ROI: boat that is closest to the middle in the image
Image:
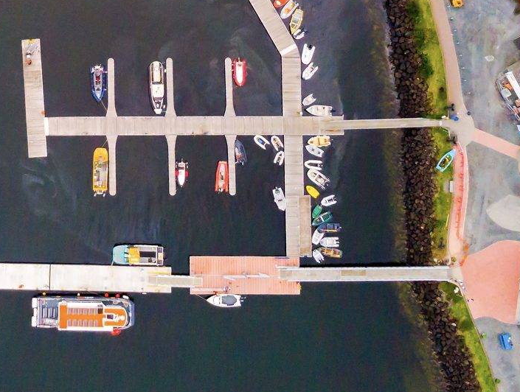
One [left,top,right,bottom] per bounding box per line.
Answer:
[272,186,286,211]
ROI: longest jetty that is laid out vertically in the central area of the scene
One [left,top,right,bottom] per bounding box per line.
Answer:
[281,57,303,257]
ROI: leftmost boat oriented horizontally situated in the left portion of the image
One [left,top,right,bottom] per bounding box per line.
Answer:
[29,294,134,334]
